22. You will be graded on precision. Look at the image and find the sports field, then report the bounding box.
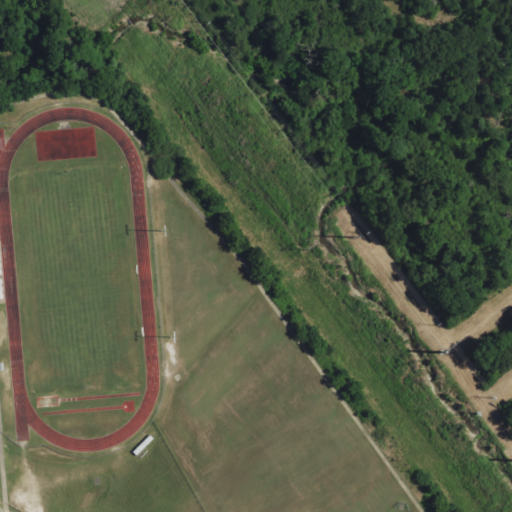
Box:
[10,120,146,438]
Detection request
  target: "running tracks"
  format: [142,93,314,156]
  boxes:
[0,107,160,451]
